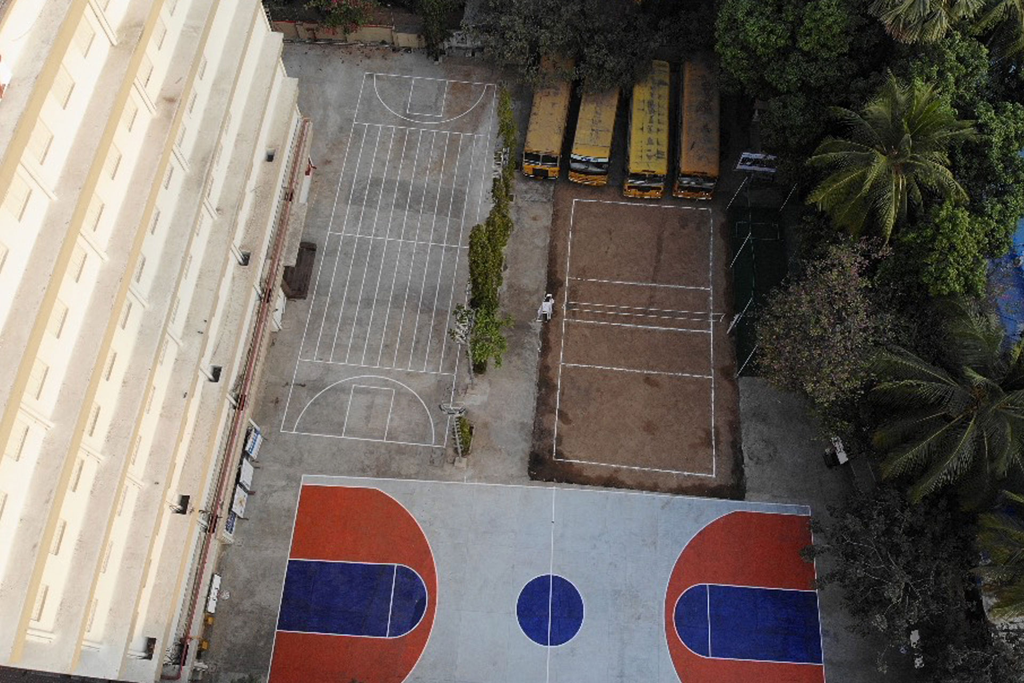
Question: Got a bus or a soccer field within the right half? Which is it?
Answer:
bus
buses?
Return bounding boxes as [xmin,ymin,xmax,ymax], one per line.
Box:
[520,41,578,182]
[623,62,670,205]
[671,63,720,207]
[566,44,616,188]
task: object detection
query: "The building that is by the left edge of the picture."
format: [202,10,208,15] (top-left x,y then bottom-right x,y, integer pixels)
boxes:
[0,0,315,683]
